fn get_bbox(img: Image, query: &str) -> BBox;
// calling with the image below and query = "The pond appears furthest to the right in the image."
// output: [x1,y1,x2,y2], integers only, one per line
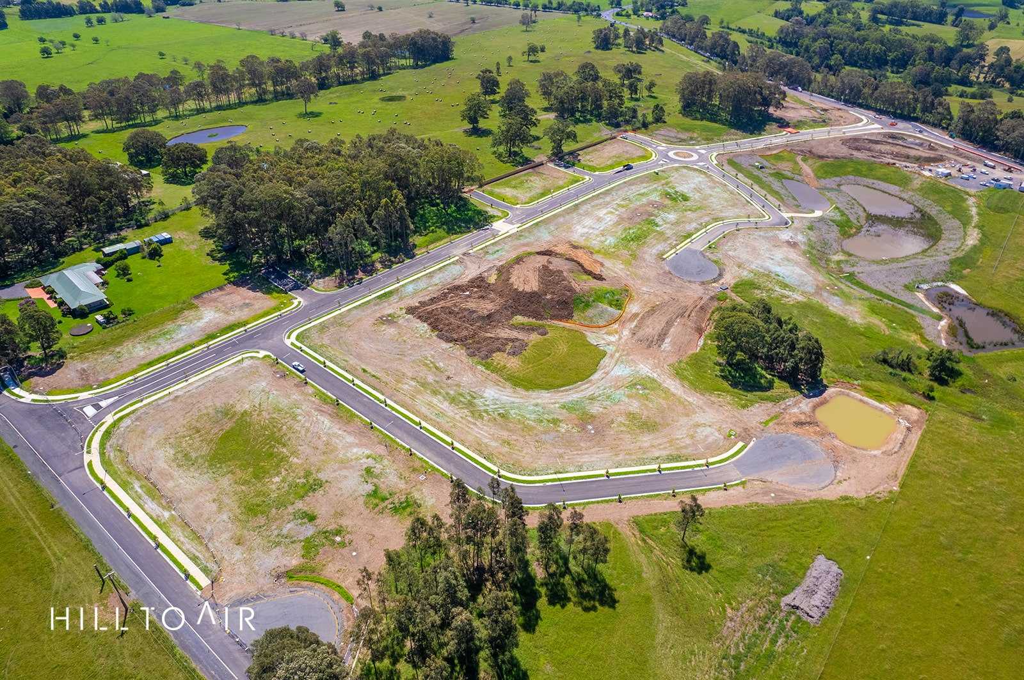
[924,286,1024,356]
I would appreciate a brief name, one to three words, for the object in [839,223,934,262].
pond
